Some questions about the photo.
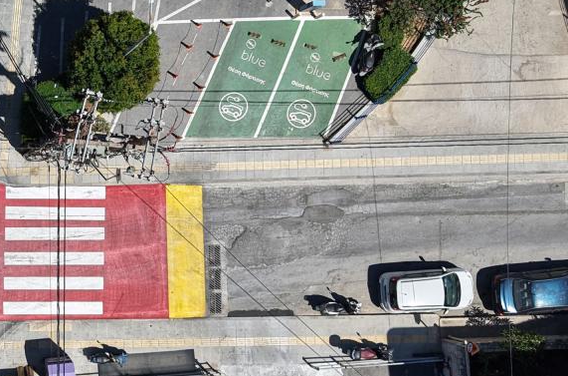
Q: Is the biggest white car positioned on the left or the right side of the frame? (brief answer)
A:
right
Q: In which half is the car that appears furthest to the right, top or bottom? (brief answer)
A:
bottom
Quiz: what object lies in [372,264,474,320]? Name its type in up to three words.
car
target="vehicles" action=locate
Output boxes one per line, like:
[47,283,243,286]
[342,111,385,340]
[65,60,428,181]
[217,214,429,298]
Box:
[372,264,474,320]
[355,37,400,77]
[488,269,568,314]
[344,341,394,371]
[87,343,134,374]
[313,290,360,320]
